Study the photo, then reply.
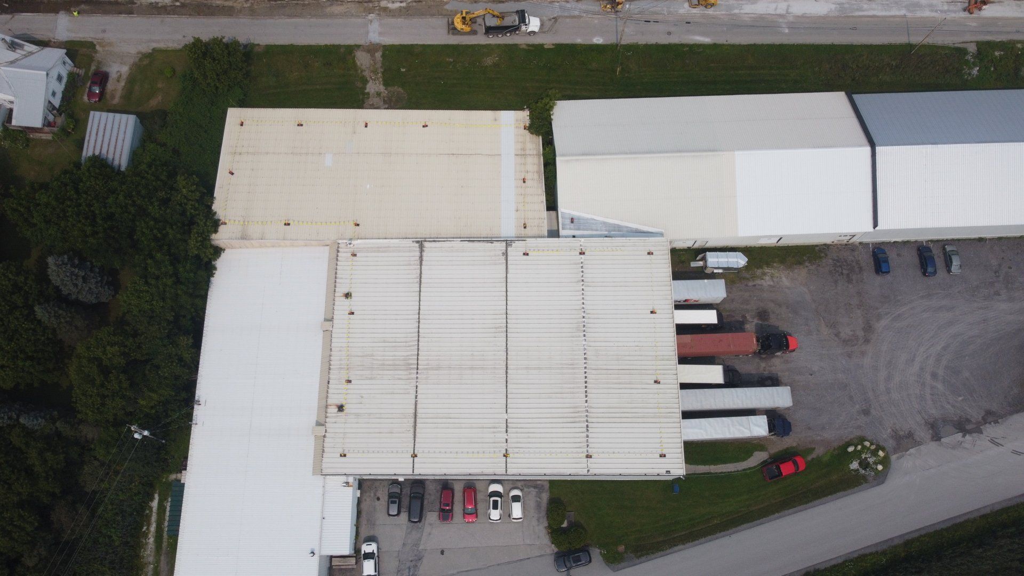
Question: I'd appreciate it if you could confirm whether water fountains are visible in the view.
No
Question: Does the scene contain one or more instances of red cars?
Yes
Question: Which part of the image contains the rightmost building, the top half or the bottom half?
top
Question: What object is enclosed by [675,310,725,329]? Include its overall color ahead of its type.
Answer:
white vehicle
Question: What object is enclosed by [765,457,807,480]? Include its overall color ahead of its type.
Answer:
red truck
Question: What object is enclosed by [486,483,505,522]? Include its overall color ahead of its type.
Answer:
white car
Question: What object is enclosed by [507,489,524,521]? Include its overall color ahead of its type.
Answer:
white car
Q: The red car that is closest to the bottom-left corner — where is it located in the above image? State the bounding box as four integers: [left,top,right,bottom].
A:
[437,489,455,522]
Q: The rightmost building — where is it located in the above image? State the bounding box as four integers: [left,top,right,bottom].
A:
[850,89,1024,243]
